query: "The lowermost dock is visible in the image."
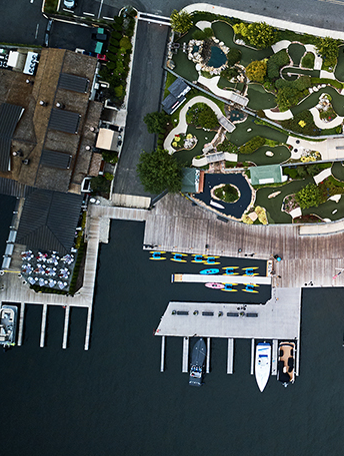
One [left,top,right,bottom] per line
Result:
[155,287,302,377]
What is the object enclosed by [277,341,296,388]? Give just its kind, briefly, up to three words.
boat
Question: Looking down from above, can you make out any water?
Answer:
Yes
